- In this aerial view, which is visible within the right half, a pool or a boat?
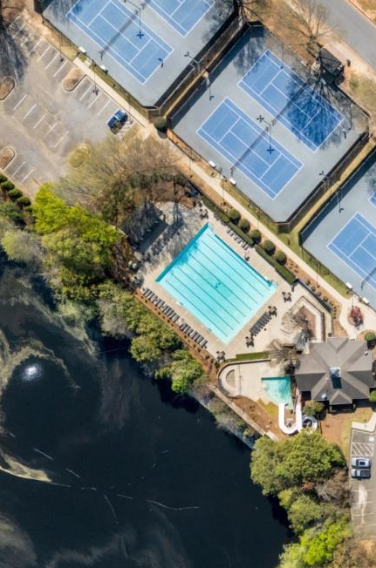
pool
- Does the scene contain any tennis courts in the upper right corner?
Yes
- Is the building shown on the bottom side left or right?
right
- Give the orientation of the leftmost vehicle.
at an angle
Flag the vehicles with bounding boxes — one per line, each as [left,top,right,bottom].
[350,458,371,469]
[349,469,372,480]
[104,108,127,131]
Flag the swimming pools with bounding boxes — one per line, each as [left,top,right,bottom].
[155,223,277,344]
[262,376,294,409]
[226,369,236,388]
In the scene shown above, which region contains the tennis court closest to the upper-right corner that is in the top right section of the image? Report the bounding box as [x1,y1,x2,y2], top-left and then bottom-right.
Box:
[236,48,345,153]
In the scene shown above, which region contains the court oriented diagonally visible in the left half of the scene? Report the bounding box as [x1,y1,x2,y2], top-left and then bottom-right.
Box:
[65,0,175,84]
